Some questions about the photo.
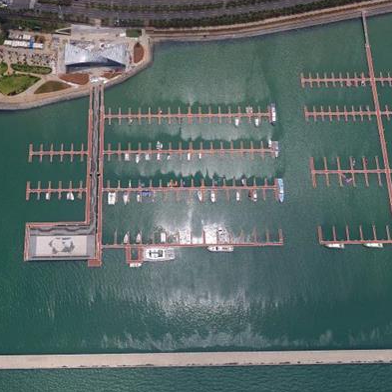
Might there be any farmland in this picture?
No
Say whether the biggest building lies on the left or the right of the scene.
left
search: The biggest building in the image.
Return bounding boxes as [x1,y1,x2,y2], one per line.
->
[65,38,126,74]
